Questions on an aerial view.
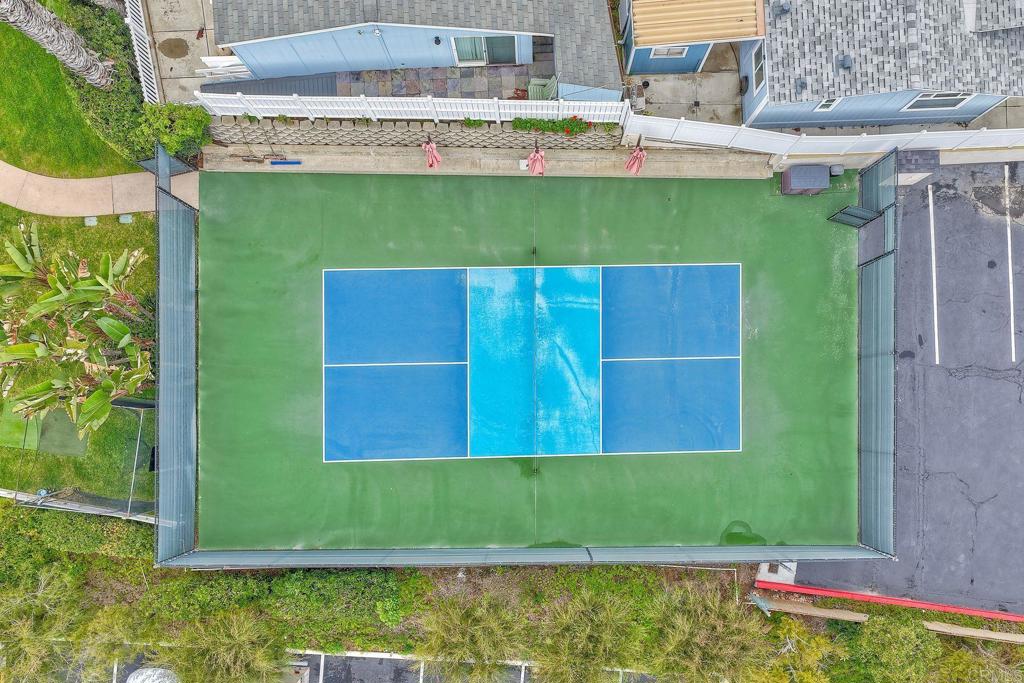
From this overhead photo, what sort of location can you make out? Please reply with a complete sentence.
It's a sports ground.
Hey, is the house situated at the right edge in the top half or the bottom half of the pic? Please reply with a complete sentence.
You can find the house situated at the right edge in the top half.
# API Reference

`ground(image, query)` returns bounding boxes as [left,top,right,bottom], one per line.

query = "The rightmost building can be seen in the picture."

[747,0,1024,126]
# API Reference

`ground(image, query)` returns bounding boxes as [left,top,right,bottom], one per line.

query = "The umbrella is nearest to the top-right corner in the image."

[620,132,645,171]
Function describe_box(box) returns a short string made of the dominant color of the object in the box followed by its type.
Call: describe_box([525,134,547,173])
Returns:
pink umbrella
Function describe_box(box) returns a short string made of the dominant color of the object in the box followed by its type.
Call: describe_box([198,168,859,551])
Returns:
green sports court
